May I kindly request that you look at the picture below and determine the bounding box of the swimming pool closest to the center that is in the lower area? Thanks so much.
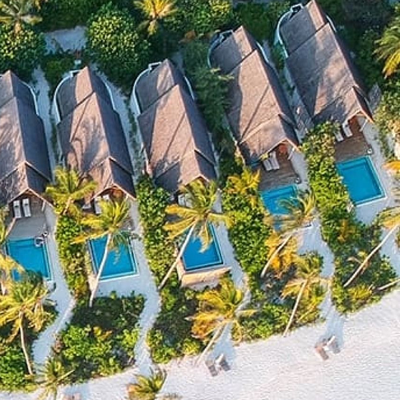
[171,220,232,280]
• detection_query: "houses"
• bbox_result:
[48,67,149,276]
[212,27,320,225]
[0,69,62,284]
[127,58,235,265]
[272,0,395,198]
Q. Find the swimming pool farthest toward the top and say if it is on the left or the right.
right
